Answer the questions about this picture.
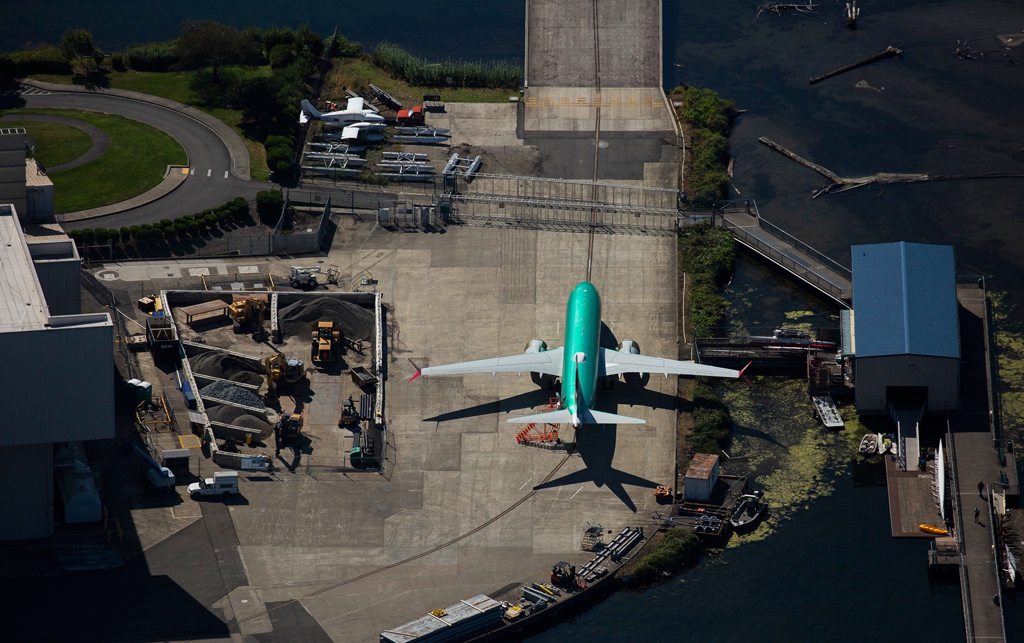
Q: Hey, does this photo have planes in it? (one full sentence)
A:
Yes, you can see a plane in this photo.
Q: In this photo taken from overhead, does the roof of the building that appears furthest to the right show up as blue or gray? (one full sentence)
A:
The roof of the building that appears furthest to the right is blue.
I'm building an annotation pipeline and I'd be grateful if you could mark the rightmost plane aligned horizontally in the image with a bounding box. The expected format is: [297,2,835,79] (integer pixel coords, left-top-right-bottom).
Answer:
[410,282,751,429]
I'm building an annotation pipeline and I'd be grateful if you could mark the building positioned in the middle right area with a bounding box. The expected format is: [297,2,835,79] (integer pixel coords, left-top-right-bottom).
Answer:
[838,240,963,428]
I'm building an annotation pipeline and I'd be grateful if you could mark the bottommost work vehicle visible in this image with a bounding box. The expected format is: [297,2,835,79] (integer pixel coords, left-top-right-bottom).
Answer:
[544,558,580,591]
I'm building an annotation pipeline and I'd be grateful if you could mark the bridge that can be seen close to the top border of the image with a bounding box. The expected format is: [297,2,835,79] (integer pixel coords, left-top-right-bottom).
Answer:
[524,0,663,89]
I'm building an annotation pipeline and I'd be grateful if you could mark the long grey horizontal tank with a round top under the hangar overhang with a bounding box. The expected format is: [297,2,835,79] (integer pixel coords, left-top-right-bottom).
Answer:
[55,440,101,520]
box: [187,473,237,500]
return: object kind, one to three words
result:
truck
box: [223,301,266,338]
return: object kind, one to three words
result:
work vehicle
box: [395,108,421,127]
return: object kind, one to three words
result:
vehicle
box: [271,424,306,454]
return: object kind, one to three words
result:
work vehicle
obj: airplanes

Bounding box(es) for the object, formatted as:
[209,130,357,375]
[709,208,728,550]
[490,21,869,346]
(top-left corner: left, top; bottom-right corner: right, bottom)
[300,102,389,144]
[410,282,751,429]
